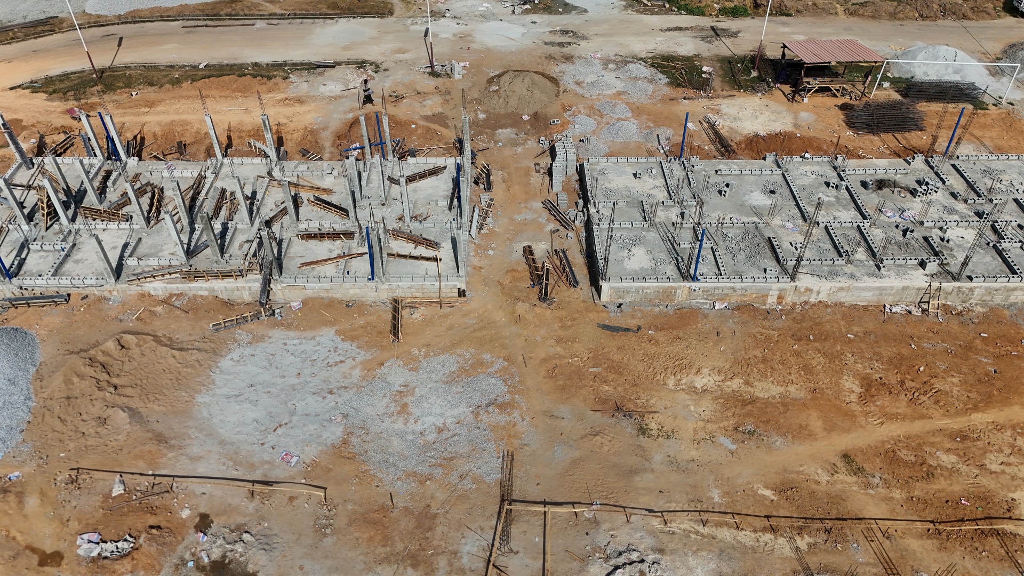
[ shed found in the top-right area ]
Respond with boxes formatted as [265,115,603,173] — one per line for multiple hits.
[771,37,885,102]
